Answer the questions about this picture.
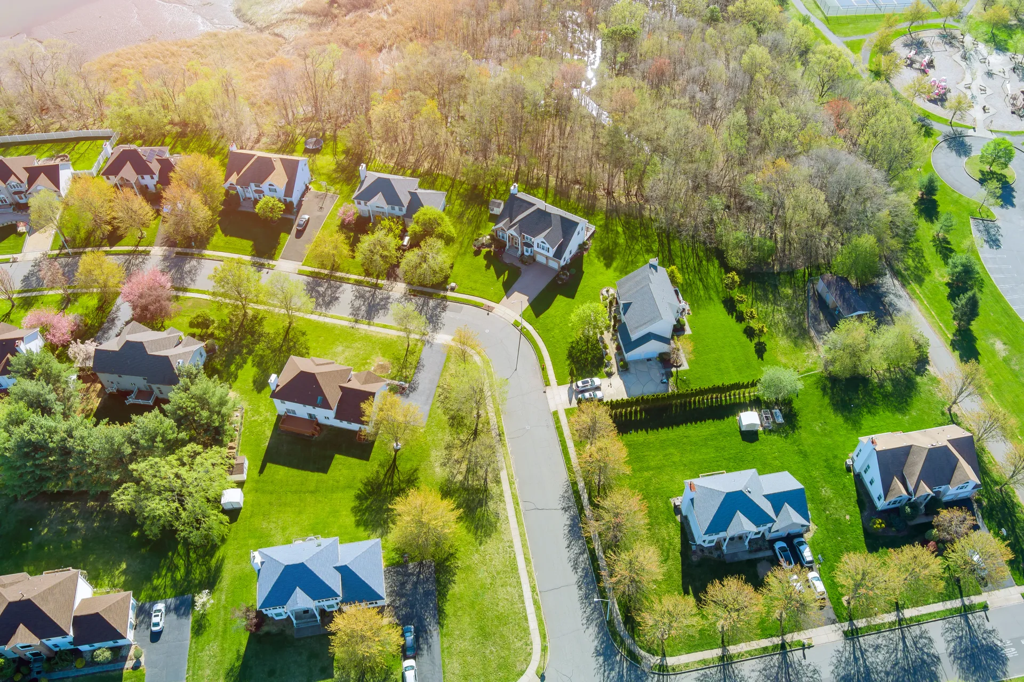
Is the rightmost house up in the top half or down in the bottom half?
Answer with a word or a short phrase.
bottom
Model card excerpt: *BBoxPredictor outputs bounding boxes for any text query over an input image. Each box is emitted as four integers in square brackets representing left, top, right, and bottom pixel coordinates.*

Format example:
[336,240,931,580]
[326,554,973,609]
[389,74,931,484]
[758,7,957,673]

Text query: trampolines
[302,134,323,150]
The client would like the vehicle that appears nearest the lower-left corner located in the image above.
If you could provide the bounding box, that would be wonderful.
[150,602,167,636]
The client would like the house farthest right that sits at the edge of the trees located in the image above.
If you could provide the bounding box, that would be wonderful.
[851,423,979,515]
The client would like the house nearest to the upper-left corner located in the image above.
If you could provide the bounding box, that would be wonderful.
[0,154,71,210]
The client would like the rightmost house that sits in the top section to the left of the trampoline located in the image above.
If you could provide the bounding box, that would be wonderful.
[216,140,307,209]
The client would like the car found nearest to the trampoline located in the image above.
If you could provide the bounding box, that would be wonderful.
[295,214,310,232]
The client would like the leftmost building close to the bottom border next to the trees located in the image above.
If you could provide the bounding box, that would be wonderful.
[0,568,136,671]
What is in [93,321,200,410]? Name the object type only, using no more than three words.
house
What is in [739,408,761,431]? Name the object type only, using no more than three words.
shed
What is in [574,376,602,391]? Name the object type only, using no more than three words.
car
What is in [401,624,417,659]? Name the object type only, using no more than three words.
car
